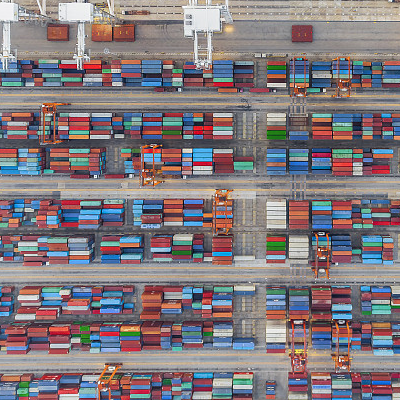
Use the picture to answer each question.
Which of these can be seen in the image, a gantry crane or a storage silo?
gantry crane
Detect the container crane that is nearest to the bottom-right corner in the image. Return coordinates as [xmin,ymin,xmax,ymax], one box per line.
[330,320,352,373]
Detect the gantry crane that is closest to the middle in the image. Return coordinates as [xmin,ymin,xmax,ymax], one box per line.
[212,189,234,237]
